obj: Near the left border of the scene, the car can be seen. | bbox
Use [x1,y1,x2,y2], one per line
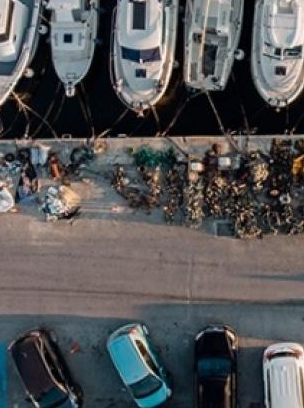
[12,321,82,408]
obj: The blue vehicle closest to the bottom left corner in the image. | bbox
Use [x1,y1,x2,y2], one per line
[111,320,169,408]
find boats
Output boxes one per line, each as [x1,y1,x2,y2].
[177,0,245,93]
[0,0,50,103]
[252,0,304,112]
[49,0,103,96]
[110,0,179,115]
